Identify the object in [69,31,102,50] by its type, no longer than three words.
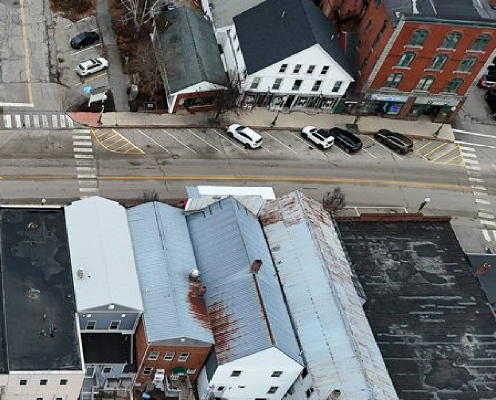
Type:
car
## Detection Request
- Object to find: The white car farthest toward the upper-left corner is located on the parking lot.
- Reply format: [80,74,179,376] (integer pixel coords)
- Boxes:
[74,56,112,77]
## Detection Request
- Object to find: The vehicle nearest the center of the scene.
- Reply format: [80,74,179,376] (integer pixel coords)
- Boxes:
[224,123,267,149]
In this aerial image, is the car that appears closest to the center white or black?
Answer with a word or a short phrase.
white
